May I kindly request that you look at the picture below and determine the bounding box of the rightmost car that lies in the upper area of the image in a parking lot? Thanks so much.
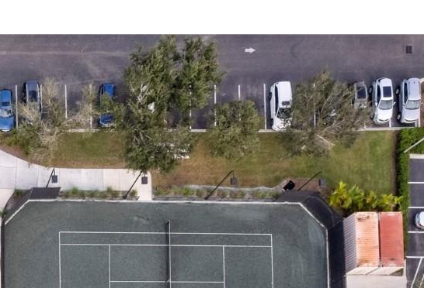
[397,77,423,123]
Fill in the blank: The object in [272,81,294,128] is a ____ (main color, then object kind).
white car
